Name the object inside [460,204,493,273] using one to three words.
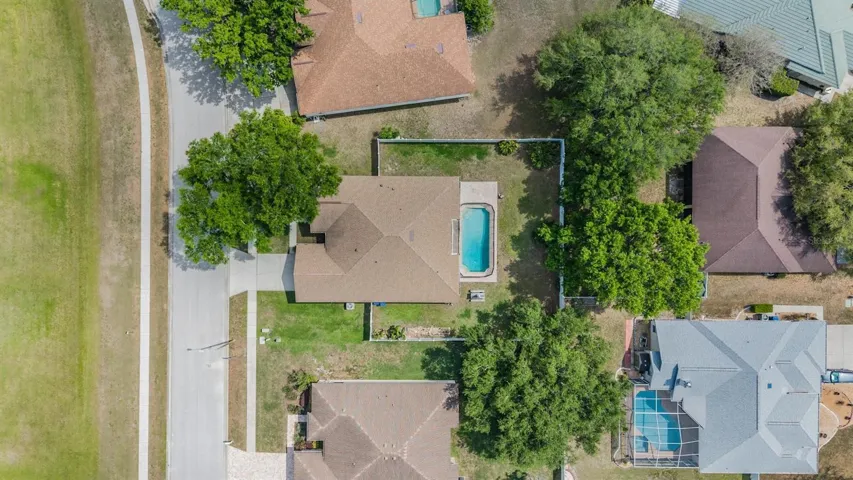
swimming pool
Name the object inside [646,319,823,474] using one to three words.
house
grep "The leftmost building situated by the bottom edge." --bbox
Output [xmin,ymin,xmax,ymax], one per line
[294,381,457,480]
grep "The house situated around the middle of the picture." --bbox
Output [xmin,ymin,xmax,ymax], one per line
[292,177,461,303]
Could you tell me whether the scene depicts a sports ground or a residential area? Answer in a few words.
residential area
